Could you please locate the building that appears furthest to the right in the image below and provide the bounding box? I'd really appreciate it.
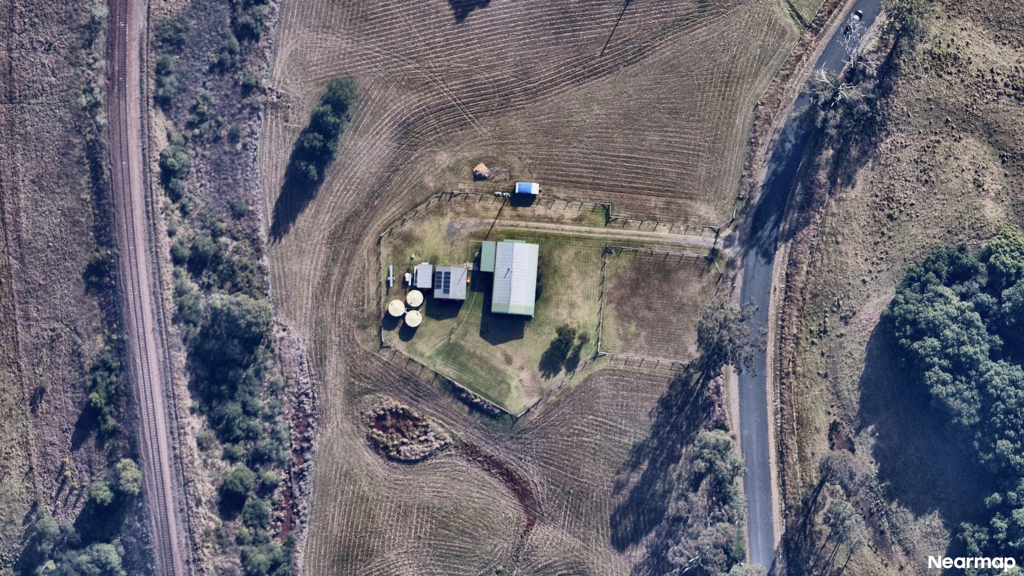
[480,239,543,318]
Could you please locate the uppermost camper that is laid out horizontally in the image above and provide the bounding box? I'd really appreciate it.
[516,182,543,195]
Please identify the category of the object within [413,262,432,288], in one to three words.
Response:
shed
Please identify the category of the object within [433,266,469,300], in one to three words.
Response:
shed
